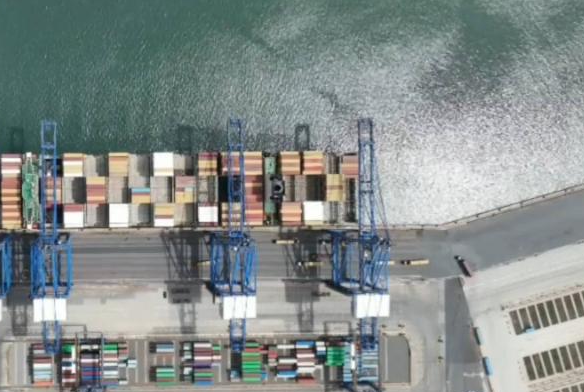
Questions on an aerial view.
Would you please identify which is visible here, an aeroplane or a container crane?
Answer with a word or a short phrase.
container crane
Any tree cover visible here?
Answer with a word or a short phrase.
No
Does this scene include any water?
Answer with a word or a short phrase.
Yes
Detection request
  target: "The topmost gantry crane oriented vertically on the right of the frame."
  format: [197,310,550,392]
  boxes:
[323,117,394,349]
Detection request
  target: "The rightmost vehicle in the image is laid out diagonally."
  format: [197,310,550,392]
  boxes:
[456,257,475,278]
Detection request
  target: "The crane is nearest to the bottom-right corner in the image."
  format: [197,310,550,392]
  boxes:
[341,325,384,392]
